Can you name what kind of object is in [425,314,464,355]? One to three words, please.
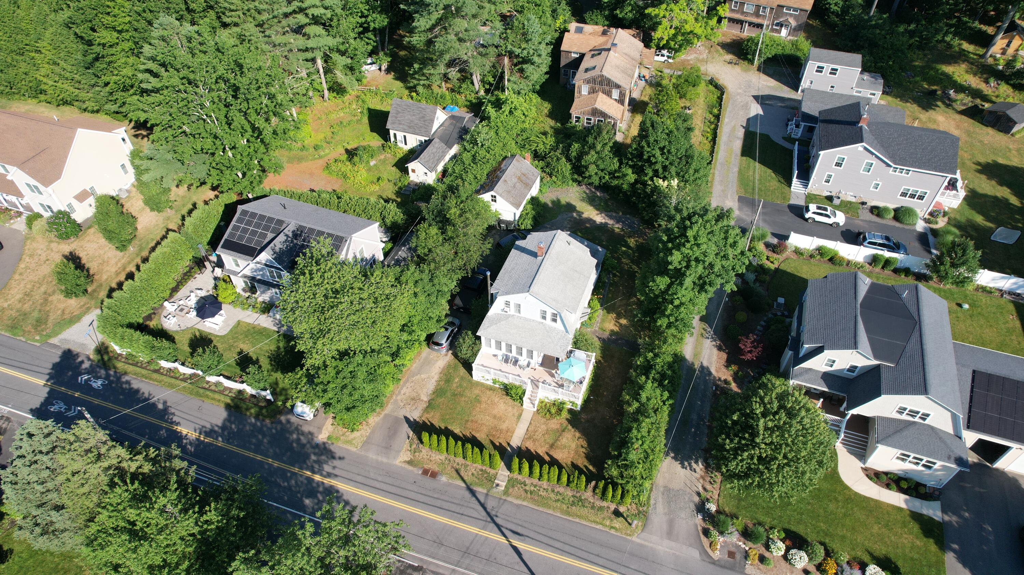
car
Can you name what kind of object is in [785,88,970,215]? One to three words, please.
house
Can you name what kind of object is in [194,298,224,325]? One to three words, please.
umbrella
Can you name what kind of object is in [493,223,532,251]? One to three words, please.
car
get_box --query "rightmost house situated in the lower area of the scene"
[773,271,1024,488]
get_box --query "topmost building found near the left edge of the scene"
[0,104,145,226]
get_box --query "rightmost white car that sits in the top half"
[807,199,851,225]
